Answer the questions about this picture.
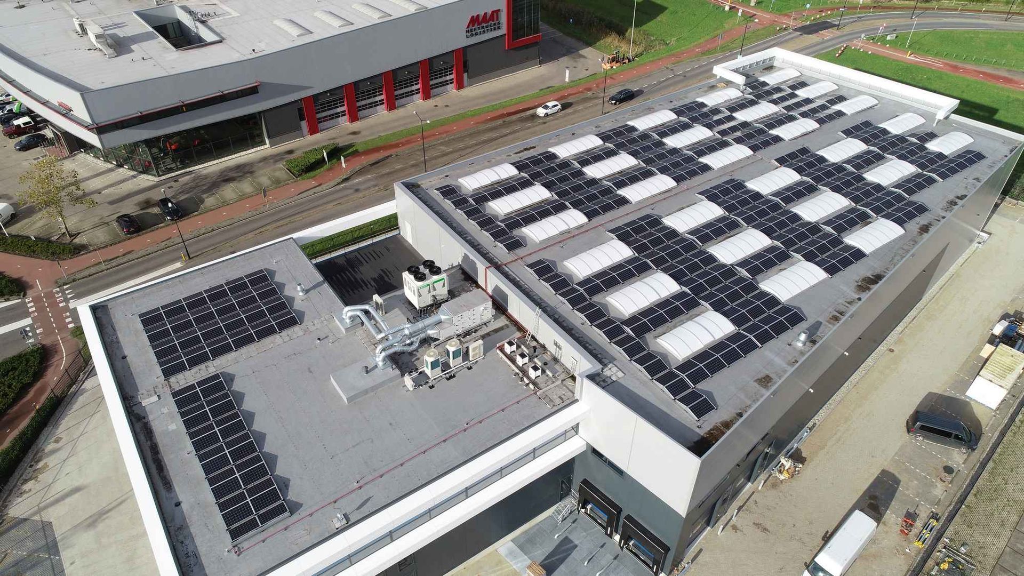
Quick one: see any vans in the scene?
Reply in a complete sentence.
Yes, the photo shows a van.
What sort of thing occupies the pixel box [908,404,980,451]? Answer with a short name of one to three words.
van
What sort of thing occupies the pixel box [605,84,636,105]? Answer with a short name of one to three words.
car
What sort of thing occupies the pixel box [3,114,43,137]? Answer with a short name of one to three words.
vehicle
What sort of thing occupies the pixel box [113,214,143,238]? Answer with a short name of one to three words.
car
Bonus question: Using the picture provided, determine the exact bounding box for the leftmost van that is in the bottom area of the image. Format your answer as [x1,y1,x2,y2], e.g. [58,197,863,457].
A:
[803,509,878,576]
